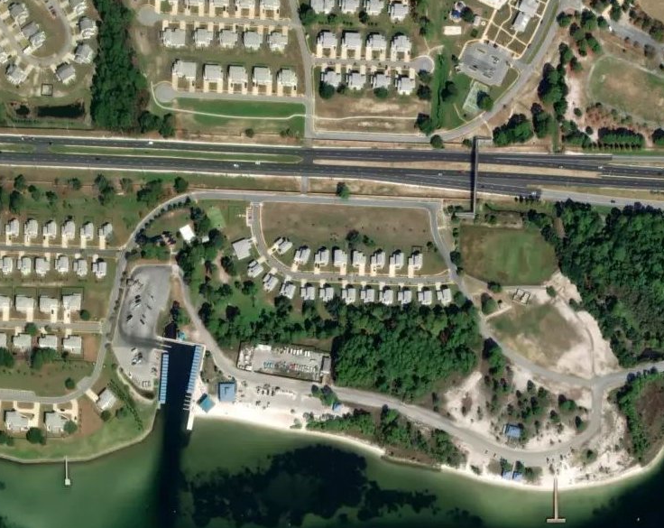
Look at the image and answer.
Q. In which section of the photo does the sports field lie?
top right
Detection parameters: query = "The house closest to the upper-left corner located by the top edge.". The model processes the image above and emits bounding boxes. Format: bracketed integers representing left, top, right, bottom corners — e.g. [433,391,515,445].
[7,0,33,23]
